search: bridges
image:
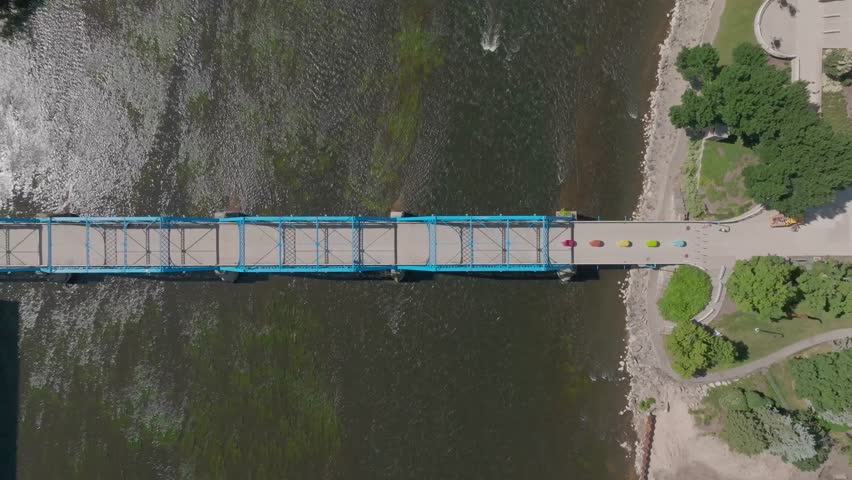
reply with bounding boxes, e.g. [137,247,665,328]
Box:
[0,213,707,281]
